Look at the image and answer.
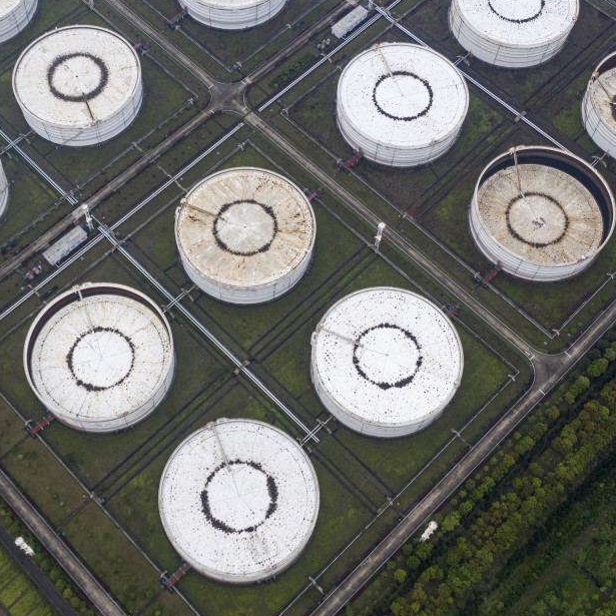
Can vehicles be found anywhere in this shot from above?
No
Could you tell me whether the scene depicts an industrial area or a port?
industrial area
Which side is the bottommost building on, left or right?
left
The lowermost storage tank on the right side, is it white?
Yes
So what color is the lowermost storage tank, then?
white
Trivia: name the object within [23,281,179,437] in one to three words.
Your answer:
storage tank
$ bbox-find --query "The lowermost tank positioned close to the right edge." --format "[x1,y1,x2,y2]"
[464,145,616,284]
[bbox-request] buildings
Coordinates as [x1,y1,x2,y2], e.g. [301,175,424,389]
[331,5,368,38]
[43,225,88,265]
